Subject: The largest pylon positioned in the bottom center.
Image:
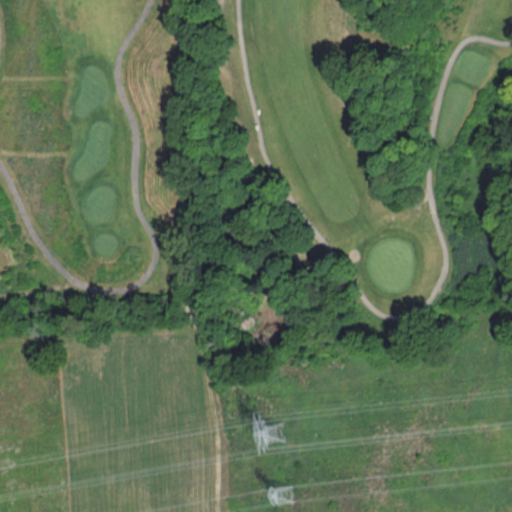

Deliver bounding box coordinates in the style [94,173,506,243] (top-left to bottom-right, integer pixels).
[253,418,286,458]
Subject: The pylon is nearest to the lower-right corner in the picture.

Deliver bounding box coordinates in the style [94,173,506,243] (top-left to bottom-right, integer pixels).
[268,486,294,508]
